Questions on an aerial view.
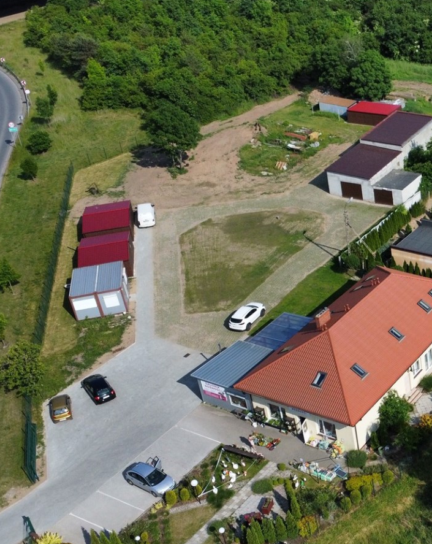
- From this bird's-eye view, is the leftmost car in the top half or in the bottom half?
bottom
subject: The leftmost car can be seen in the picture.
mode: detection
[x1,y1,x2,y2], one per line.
[45,390,76,426]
